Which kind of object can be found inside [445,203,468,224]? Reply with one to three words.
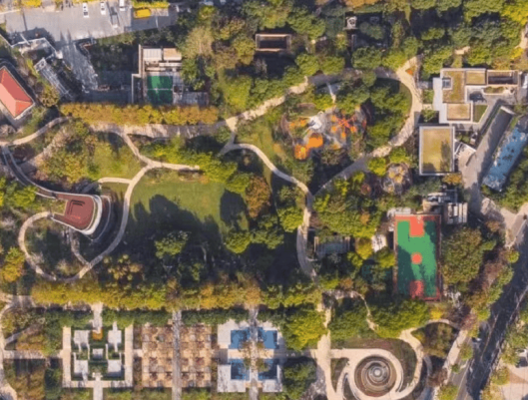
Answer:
shed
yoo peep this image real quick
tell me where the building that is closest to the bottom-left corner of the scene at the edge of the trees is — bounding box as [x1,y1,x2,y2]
[51,192,110,240]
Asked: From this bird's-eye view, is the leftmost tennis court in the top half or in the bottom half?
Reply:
top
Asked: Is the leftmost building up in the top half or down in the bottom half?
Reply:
top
